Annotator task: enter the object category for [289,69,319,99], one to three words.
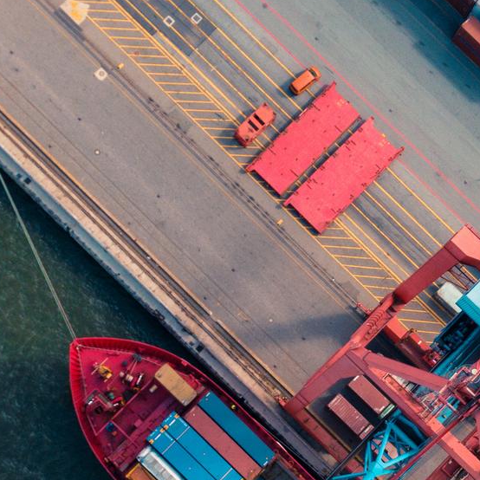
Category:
van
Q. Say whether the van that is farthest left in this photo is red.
Yes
